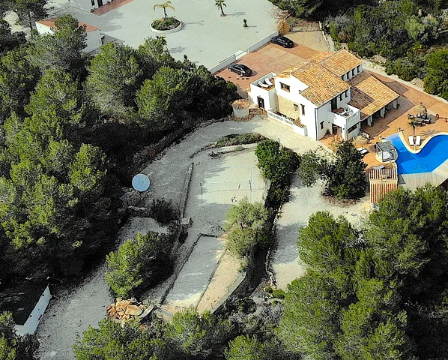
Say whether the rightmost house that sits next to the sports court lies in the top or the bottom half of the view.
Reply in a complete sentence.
You can find the rightmost house that sits next to the sports court in the top half.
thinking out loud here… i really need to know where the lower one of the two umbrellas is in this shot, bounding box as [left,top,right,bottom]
[354,128,370,144]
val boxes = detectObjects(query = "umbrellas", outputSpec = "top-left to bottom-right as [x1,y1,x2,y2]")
[413,101,430,117]
[354,128,370,144]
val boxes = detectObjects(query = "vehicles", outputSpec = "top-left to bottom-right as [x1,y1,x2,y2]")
[226,61,251,77]
[270,34,295,48]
